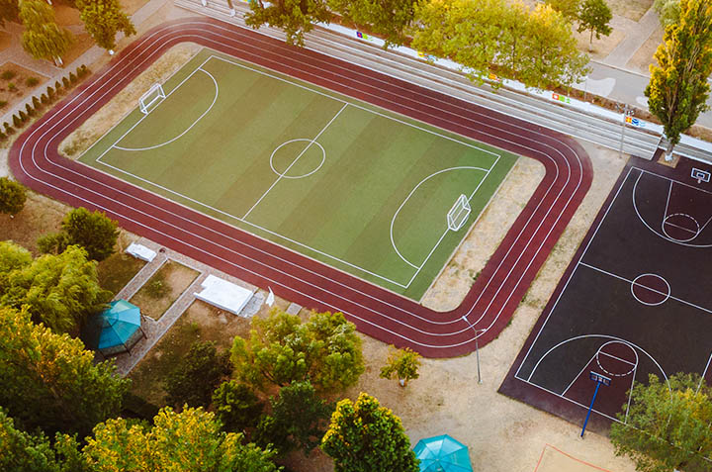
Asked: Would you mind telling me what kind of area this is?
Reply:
sports ground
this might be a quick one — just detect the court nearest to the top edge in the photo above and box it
[516,167,712,442]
